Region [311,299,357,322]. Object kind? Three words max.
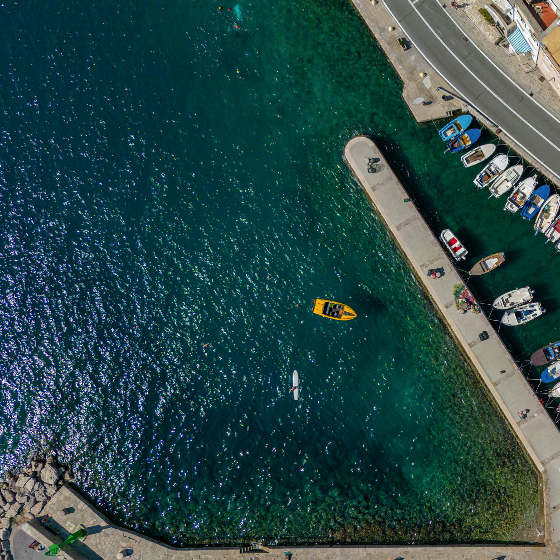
boat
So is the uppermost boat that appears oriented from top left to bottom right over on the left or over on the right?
right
